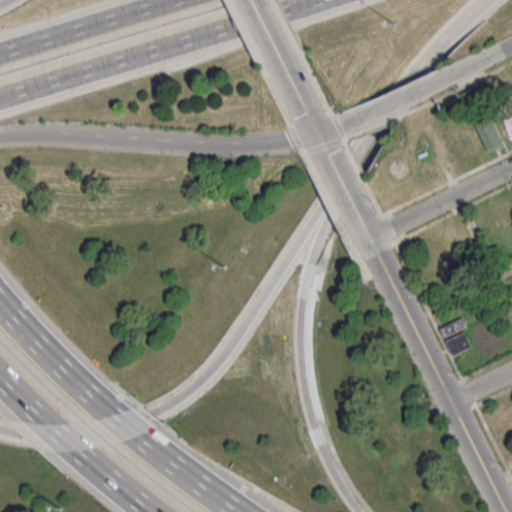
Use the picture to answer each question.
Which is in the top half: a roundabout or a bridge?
bridge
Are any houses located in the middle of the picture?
No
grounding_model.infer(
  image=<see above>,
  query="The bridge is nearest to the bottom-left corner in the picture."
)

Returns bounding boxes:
[11,402,164,458]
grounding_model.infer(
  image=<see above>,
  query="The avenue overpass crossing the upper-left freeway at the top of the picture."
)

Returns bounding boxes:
[223,0,290,46]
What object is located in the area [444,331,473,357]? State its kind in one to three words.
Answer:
house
